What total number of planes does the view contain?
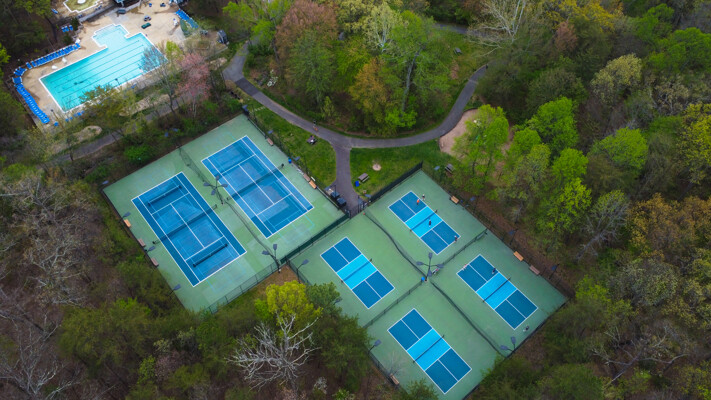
0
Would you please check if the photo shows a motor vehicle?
No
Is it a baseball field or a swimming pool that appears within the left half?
swimming pool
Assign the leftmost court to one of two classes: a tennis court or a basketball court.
tennis court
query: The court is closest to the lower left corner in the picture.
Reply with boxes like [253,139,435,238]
[131,171,246,290]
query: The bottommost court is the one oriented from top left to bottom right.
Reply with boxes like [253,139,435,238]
[387,308,471,394]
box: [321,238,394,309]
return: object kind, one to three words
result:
sports court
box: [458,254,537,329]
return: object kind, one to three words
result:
sports court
